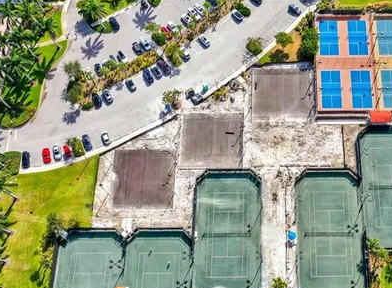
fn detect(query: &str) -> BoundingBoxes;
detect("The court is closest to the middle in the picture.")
[180,111,244,167]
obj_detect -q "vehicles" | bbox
[101,129,110,145]
[102,88,113,103]
[180,11,193,24]
[251,0,263,5]
[62,142,72,157]
[91,92,101,107]
[84,62,94,76]
[231,8,244,20]
[21,150,30,166]
[93,62,101,76]
[52,143,62,159]
[193,0,206,13]
[288,1,302,13]
[182,85,197,98]
[142,66,153,81]
[156,56,170,73]
[150,63,162,77]
[159,25,172,37]
[81,133,91,149]
[166,19,178,31]
[100,53,110,63]
[141,0,150,9]
[199,34,211,47]
[124,77,137,91]
[42,148,51,162]
[139,36,151,49]
[189,92,208,105]
[131,40,143,54]
[108,15,120,29]
[187,5,200,18]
